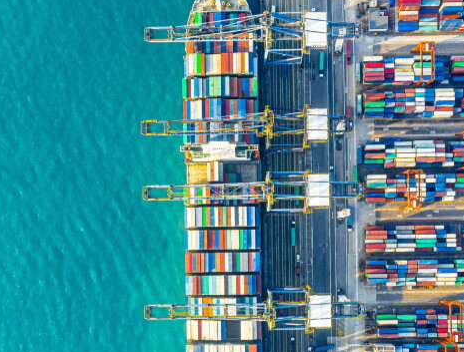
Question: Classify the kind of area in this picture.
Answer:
port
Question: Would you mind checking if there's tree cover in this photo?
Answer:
No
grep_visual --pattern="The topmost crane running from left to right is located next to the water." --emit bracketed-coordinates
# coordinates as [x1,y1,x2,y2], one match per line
[142,11,359,80]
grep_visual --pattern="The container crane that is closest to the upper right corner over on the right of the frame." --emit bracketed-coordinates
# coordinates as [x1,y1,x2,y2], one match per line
[413,41,436,88]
